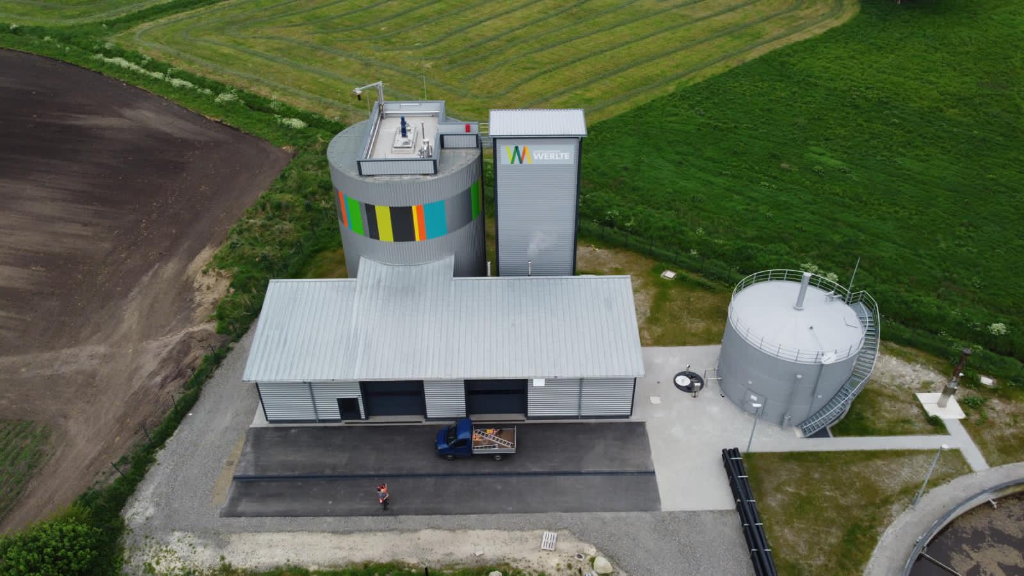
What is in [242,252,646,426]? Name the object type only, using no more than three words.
building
